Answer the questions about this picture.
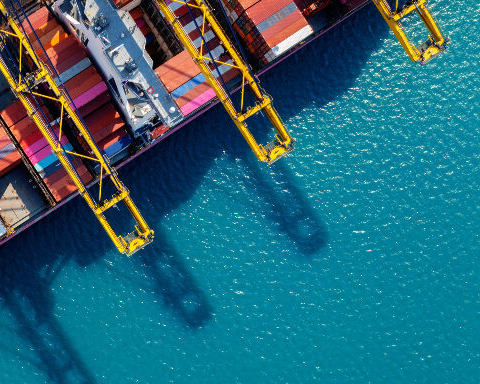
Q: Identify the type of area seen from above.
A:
port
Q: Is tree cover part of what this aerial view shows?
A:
No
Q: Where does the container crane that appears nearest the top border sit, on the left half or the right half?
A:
right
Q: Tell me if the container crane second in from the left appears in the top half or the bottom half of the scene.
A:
top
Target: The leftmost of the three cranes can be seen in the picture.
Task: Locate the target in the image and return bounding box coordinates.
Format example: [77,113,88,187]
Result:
[0,0,155,256]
